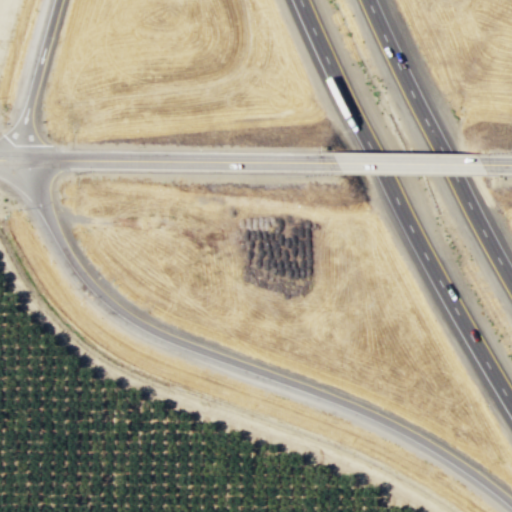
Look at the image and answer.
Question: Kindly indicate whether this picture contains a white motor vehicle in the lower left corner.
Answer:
No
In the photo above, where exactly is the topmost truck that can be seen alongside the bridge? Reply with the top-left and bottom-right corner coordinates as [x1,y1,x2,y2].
[326,74,356,129]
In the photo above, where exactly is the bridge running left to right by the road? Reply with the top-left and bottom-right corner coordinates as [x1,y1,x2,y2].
[325,152,499,178]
